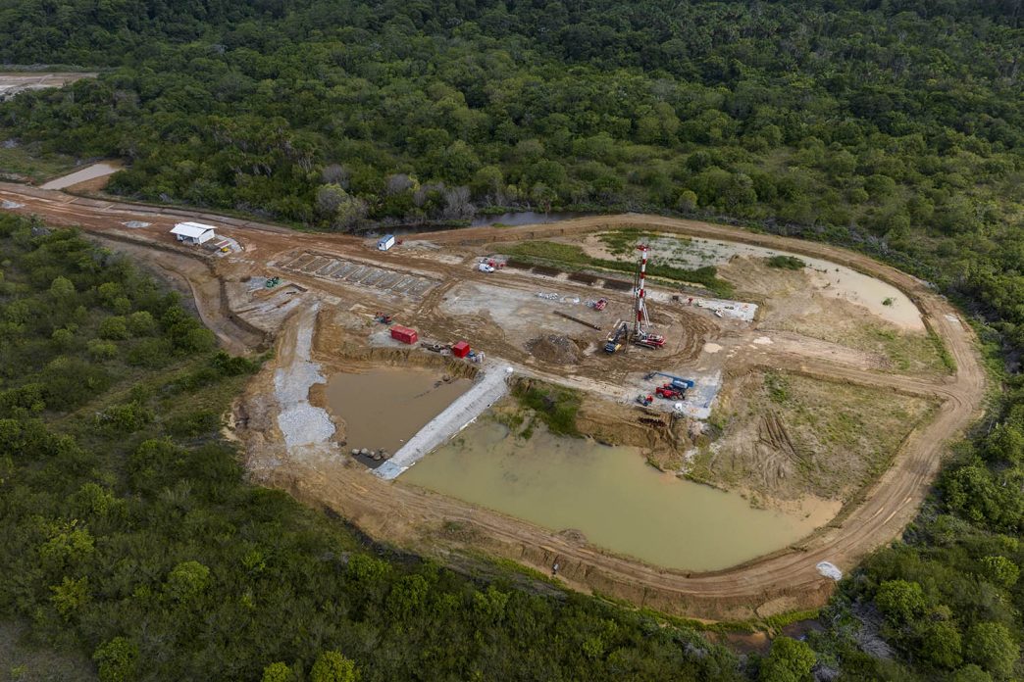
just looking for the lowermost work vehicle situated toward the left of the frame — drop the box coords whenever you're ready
[377,311,390,323]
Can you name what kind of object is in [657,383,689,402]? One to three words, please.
work vehicle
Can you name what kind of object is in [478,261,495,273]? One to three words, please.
vehicle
